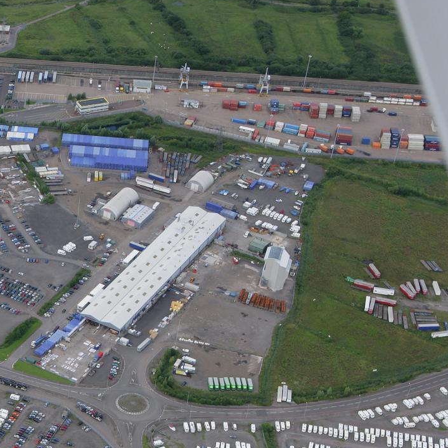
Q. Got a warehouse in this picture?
Yes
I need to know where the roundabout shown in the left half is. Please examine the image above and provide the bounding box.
[99,381,168,427]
